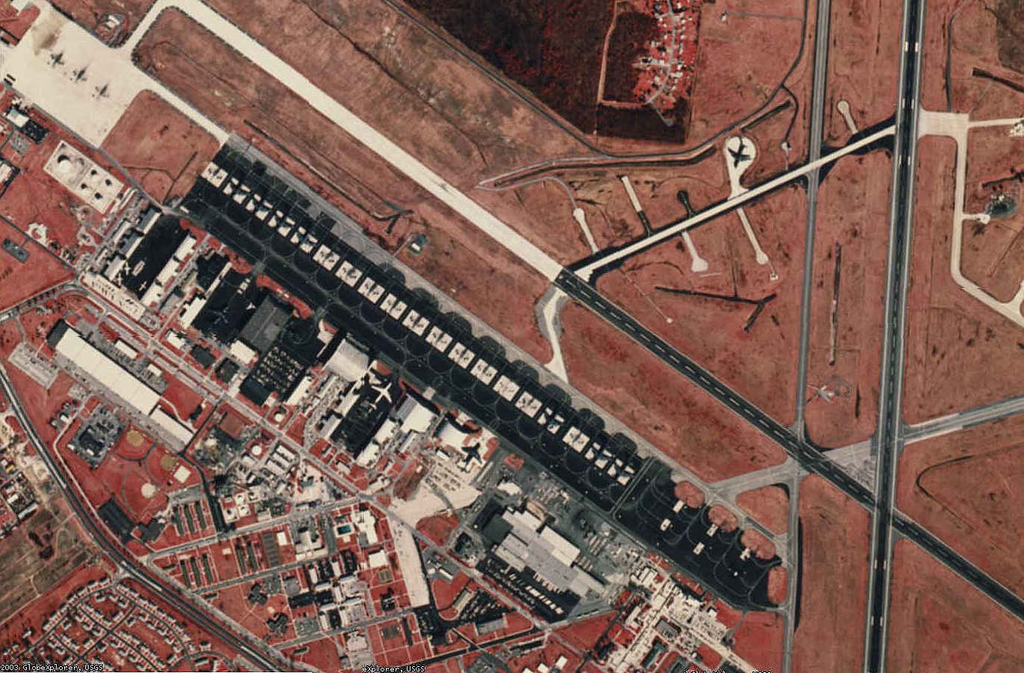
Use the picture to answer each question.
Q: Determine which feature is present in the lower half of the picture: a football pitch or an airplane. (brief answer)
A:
airplane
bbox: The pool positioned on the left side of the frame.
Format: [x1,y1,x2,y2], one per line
[335,525,354,537]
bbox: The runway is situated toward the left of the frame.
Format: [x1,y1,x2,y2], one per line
[176,0,563,281]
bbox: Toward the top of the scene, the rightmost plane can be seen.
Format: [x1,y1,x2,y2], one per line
[729,142,751,168]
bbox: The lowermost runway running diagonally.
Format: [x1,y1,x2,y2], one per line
[554,268,1024,621]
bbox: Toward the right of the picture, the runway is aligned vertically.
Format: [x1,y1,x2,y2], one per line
[863,0,926,673]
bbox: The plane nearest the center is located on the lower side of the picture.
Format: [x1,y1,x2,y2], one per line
[544,408,567,434]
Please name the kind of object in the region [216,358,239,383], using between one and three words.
building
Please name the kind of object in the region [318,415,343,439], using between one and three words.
hangar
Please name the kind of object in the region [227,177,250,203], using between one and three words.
airplane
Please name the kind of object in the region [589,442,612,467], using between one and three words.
airplane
